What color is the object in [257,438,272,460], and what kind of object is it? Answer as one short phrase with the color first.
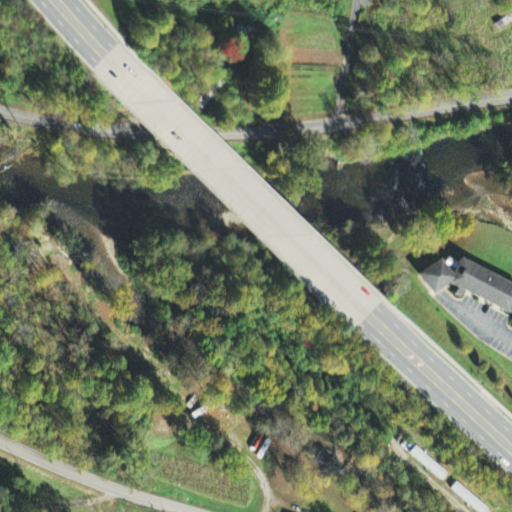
white vehicle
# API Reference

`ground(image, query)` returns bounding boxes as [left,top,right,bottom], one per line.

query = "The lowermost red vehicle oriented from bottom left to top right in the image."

[250,434,264,452]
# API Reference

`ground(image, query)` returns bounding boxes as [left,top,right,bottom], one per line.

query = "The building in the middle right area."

[420,258,512,312]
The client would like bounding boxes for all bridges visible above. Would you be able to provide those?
[87,38,388,337]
